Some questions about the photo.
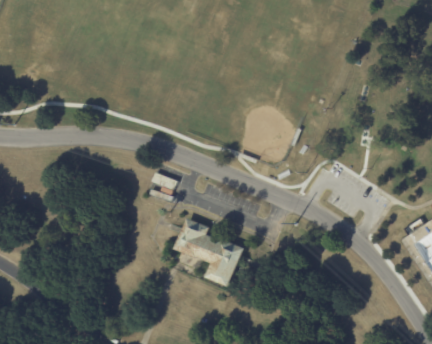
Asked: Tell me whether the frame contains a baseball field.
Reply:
Yes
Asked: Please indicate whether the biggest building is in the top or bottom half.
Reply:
bottom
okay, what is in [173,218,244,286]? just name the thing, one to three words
building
